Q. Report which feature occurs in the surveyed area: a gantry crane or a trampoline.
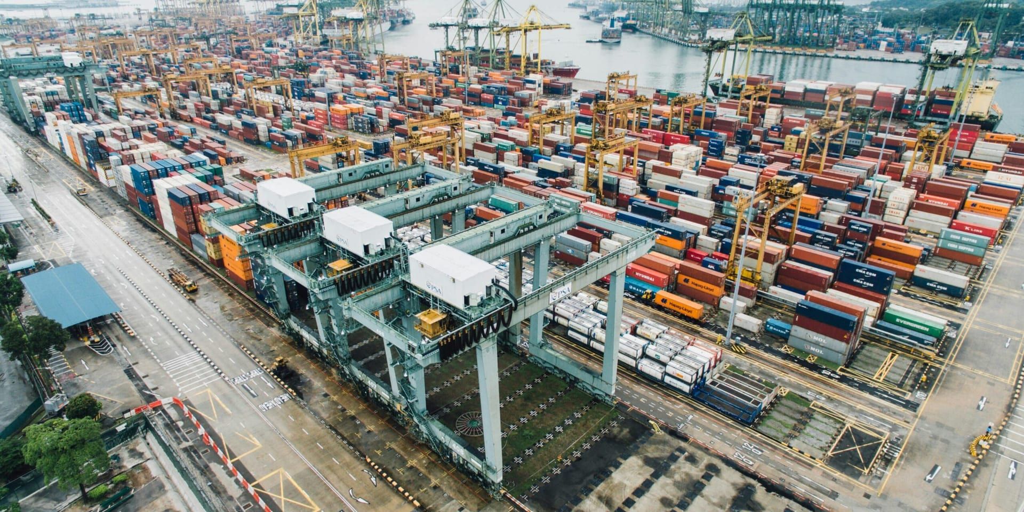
gantry crane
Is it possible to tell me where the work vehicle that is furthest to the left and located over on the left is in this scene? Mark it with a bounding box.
[2,181,29,193]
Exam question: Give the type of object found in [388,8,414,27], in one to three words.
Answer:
ship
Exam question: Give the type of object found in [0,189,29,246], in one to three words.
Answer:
shed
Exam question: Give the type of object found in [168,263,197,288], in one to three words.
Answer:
truck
